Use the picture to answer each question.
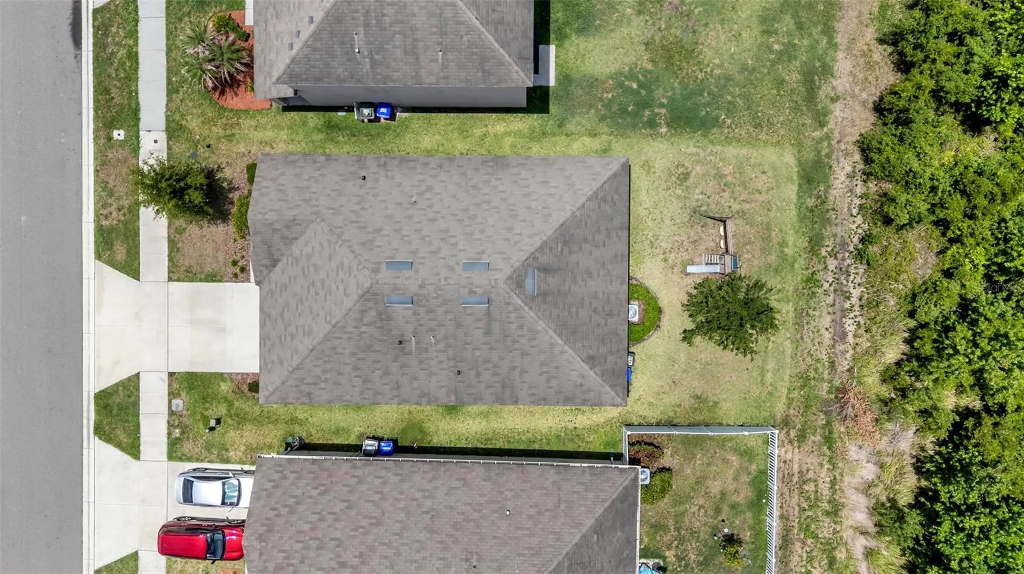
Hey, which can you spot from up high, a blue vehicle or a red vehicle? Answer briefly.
red vehicle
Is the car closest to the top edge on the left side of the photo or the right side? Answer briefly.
left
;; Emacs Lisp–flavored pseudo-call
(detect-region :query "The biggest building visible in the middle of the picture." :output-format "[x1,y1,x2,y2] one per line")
[249,155,632,408]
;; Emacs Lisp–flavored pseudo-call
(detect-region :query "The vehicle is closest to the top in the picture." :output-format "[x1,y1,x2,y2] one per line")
[172,468,255,514]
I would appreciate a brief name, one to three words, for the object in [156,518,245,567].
car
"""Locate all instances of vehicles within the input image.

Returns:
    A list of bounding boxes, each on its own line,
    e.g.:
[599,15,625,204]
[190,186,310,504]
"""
[156,518,245,567]
[172,468,255,514]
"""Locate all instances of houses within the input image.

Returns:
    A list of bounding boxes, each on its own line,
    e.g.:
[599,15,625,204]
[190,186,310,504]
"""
[249,155,632,408]
[253,0,535,107]
[241,449,640,574]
